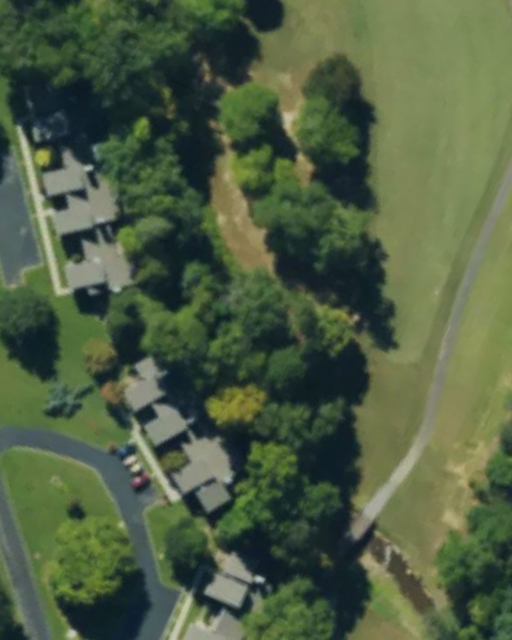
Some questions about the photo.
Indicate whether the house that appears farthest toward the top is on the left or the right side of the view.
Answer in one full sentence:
The house that appears farthest toward the top sits on the left side.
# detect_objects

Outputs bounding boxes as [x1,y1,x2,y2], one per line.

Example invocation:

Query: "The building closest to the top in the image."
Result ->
[31,93,101,141]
